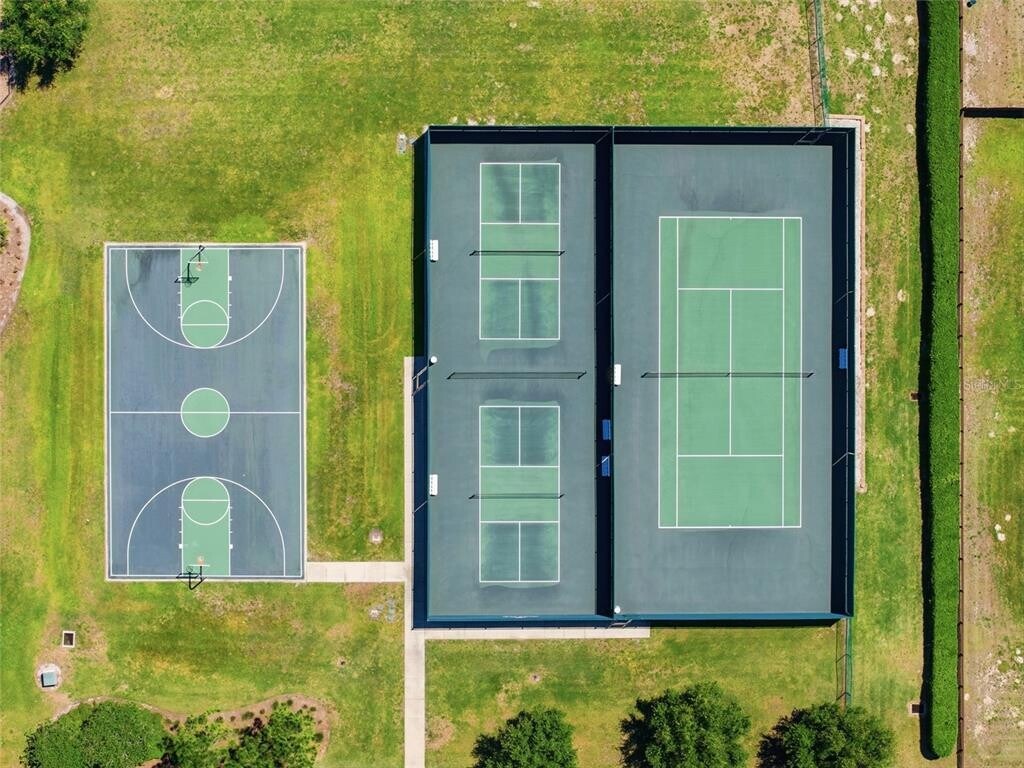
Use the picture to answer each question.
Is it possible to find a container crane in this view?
No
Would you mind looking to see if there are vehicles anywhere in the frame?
No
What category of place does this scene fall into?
sports ground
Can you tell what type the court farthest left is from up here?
basketball court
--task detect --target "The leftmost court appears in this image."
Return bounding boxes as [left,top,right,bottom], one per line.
[104,242,307,582]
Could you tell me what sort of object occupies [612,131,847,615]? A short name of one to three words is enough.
tennis court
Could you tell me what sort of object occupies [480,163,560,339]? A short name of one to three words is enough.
sports court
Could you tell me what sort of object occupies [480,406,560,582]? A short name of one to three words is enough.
sports court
